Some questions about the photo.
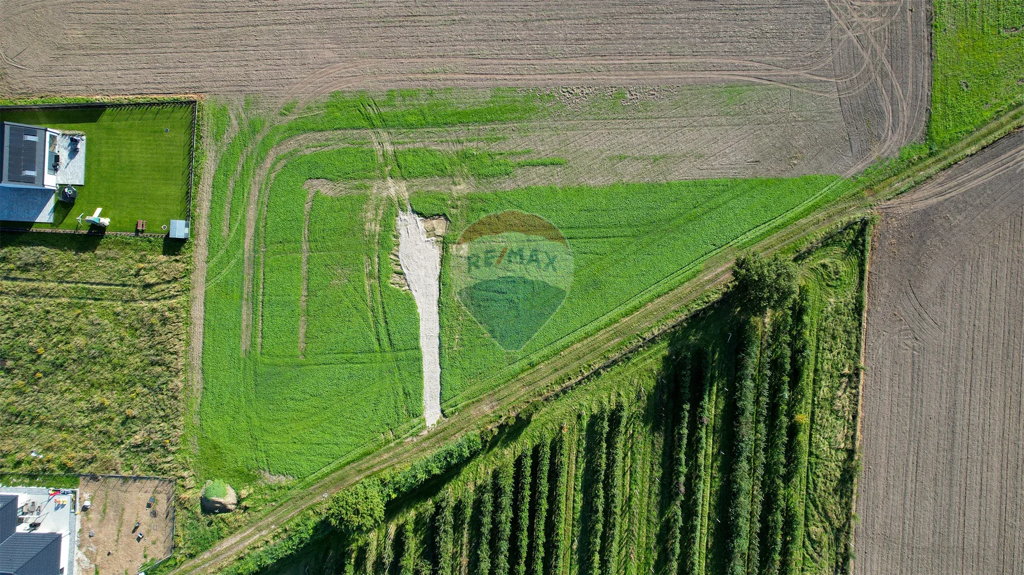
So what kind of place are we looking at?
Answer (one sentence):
What you see here is farmland.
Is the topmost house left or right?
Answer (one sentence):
The topmost house sits on the left side.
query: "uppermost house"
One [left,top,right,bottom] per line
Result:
[0,121,58,189]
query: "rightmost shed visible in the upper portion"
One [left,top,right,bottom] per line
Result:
[170,219,189,237]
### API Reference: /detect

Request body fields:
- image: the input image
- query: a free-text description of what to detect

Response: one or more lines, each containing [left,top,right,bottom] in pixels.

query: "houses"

[0,491,72,575]
[0,121,58,189]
